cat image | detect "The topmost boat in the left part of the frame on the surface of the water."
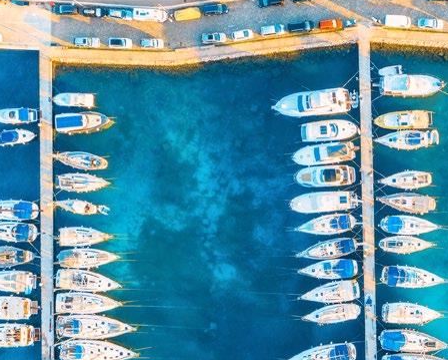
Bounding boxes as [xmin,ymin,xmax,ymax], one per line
[52,93,106,111]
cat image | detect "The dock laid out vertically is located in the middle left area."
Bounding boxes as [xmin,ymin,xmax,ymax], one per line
[39,50,56,360]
